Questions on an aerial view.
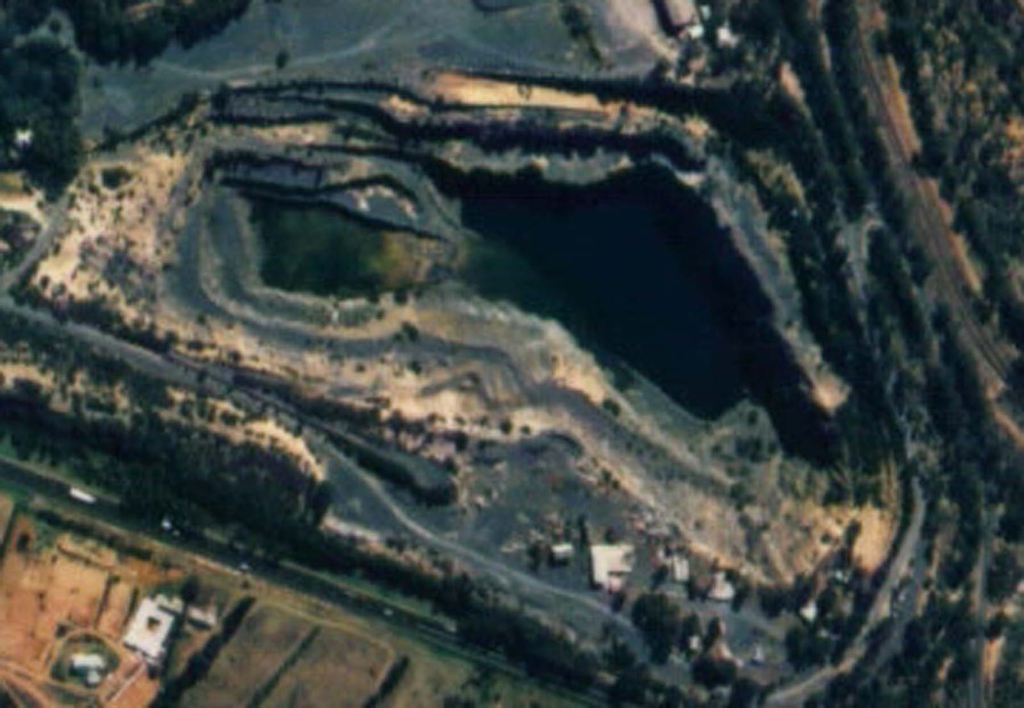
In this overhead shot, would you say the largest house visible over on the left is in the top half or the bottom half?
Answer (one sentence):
It is in the bottom half that the largest house visible over on the left appears.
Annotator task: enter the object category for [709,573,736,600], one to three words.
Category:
house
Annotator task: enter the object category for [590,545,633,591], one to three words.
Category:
building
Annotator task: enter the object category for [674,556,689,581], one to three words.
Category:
shed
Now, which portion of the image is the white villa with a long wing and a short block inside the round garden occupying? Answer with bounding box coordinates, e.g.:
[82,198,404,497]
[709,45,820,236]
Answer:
[71,654,104,684]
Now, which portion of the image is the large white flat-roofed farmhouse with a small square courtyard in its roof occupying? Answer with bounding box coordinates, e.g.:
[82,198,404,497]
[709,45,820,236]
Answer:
[124,595,181,667]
